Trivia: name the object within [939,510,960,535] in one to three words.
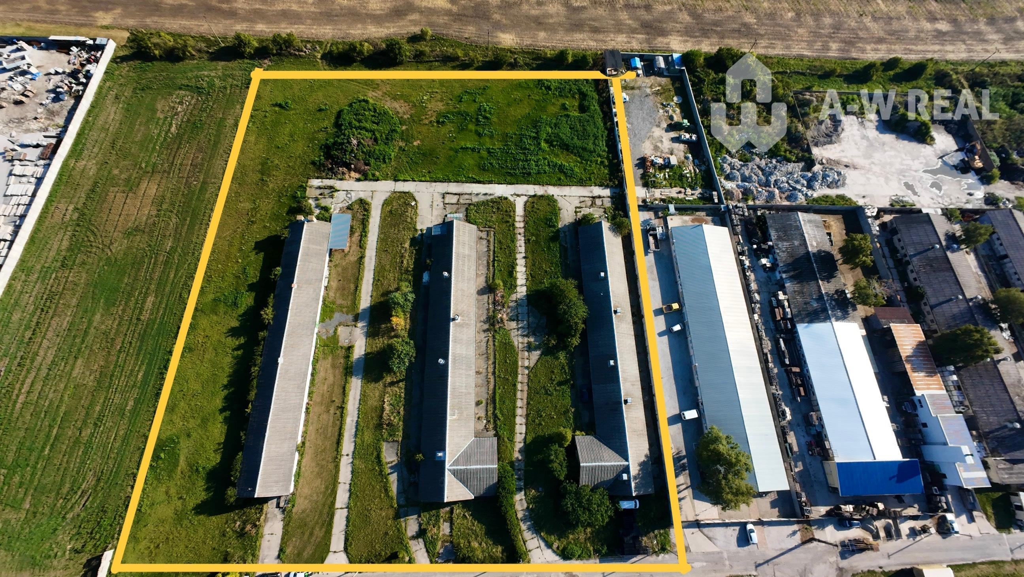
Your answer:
car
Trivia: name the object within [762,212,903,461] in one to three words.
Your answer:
warehouse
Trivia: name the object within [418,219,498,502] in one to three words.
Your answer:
building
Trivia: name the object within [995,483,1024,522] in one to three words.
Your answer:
bus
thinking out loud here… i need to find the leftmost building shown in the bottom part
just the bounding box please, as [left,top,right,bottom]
[236,212,332,497]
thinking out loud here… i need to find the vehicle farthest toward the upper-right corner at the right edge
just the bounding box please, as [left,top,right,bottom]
[966,145,985,170]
